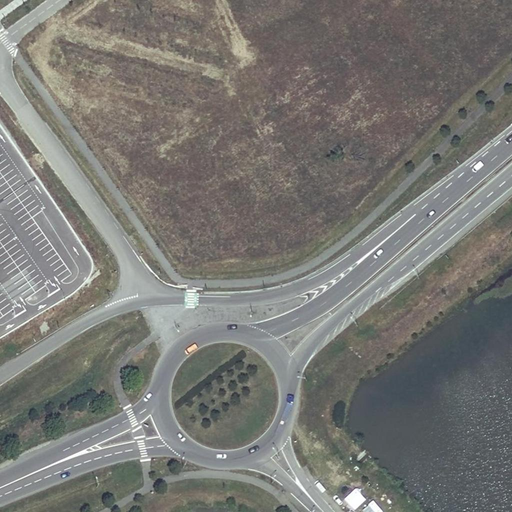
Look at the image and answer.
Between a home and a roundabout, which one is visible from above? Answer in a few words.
roundabout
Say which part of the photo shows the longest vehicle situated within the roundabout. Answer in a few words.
bottom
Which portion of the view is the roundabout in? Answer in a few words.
bottom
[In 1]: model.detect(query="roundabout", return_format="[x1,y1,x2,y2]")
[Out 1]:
[150,322,303,470]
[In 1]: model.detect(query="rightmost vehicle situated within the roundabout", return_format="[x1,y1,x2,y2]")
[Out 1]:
[277,395,296,426]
